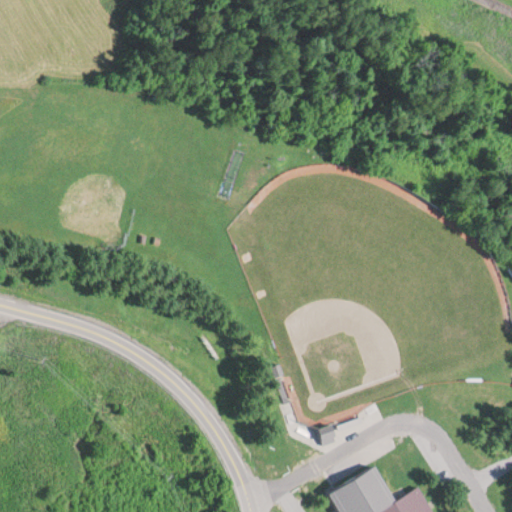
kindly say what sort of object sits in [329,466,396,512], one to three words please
building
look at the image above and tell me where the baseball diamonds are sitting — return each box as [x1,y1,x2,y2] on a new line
[228,164,512,428]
